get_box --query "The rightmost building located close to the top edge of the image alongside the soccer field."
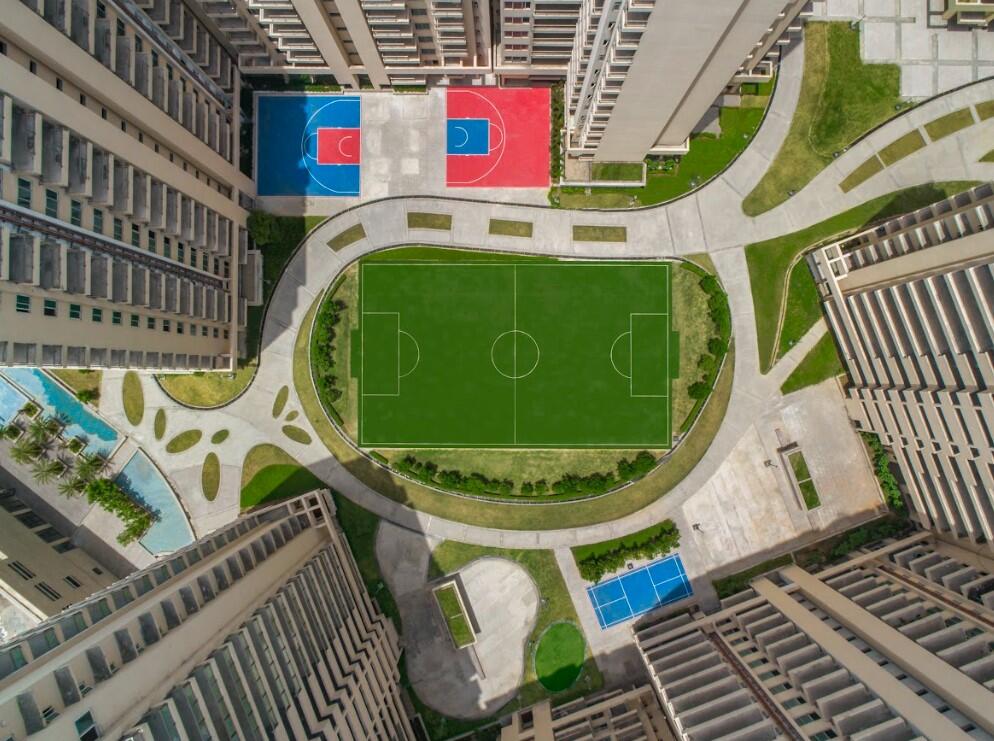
[559,0,817,188]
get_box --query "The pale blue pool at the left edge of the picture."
[0,375,29,426]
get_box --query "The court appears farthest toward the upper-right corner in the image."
[445,85,552,188]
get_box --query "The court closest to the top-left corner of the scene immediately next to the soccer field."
[254,91,363,198]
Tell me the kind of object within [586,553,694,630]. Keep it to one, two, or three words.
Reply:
sports court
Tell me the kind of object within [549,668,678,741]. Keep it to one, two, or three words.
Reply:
building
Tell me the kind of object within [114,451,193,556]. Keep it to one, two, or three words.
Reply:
swimming pool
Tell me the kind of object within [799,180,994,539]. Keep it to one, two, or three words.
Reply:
building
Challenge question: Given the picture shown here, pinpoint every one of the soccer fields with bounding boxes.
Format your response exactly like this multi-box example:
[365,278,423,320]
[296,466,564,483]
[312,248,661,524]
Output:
[349,262,679,452]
